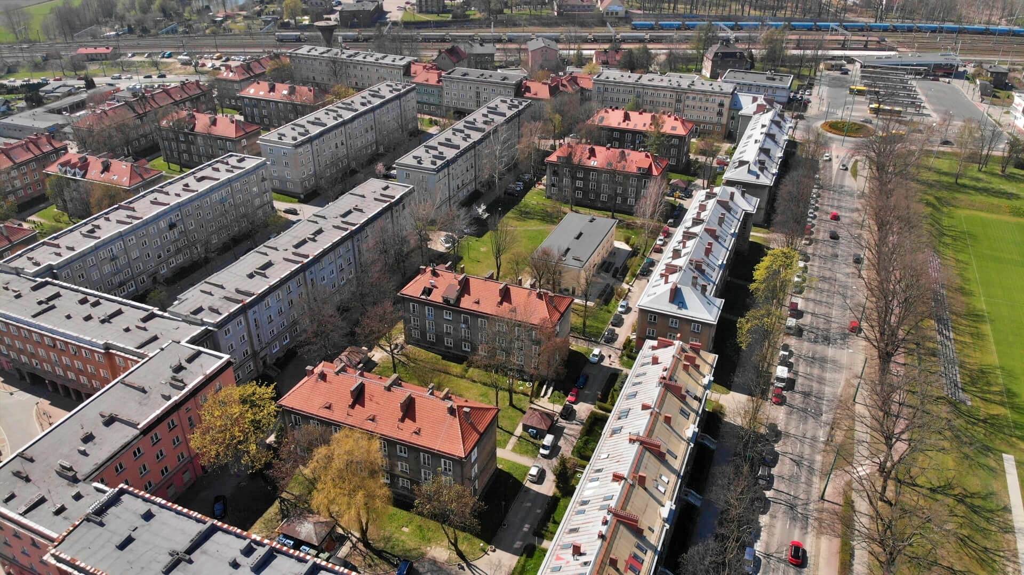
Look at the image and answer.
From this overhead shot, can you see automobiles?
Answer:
Yes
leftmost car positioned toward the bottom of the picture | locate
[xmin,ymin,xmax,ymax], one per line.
[211,493,227,520]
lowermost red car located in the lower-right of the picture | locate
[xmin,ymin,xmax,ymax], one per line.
[787,539,805,571]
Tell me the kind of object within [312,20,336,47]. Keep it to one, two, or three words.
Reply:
water tower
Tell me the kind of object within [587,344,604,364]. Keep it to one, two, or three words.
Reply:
car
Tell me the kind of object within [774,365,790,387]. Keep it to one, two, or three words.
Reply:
vehicle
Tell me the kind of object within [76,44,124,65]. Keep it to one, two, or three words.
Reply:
shed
